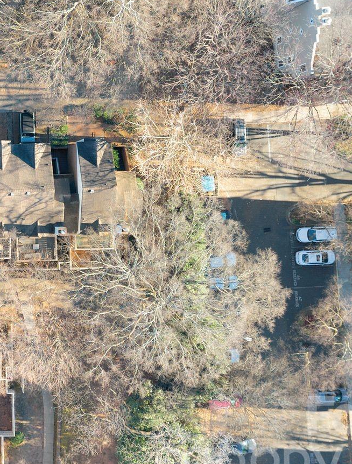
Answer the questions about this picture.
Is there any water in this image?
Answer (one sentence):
No, there's no water in this view.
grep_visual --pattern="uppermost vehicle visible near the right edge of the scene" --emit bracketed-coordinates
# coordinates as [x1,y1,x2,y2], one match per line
[295,226,336,243]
